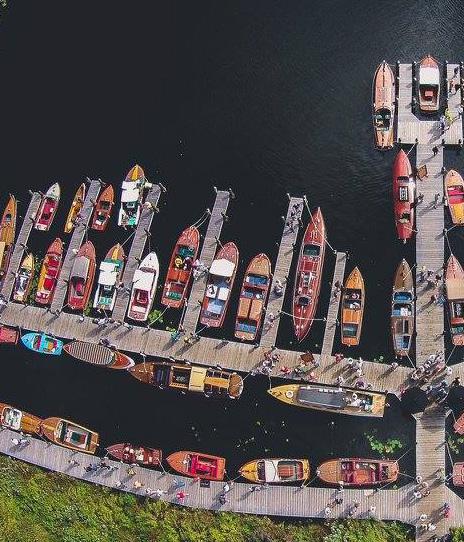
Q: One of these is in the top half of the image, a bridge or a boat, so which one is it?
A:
boat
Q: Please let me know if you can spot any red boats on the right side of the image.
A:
Yes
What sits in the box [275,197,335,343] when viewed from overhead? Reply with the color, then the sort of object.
red boat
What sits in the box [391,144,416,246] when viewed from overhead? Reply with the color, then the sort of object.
red boat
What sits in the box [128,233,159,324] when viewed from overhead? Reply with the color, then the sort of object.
white boat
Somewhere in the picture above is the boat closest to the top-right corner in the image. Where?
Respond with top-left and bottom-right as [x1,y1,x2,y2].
[414,53,447,114]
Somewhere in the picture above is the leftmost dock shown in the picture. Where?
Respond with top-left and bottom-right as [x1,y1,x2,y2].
[0,191,46,302]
